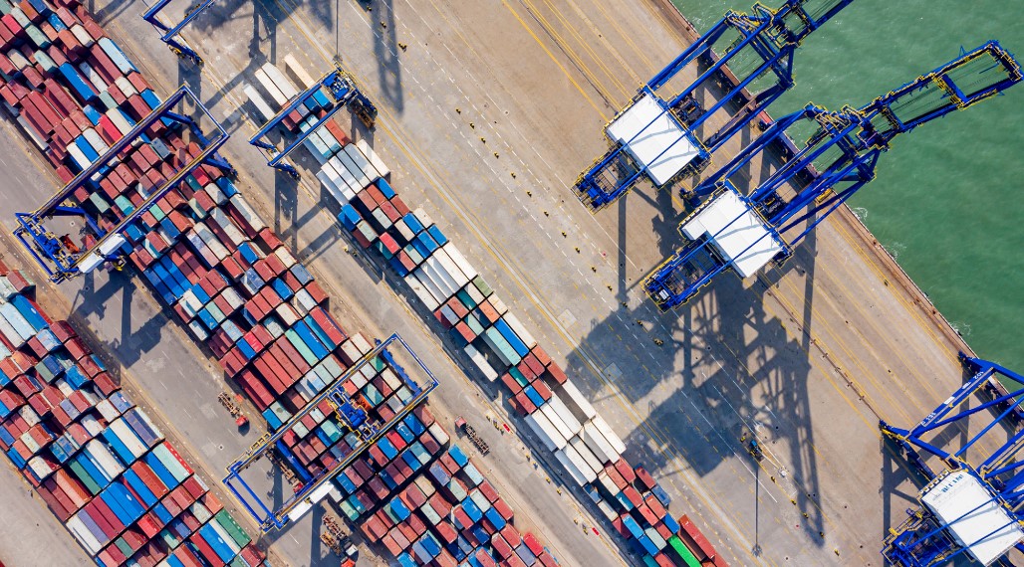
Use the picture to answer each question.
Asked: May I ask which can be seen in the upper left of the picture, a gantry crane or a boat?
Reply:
gantry crane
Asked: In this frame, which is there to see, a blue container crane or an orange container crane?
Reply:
blue container crane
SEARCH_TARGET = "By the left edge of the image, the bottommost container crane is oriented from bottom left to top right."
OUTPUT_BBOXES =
[7,85,233,289]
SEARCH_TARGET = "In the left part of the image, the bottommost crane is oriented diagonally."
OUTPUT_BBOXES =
[220,332,442,537]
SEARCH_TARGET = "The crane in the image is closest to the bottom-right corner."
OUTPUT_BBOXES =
[880,350,1024,567]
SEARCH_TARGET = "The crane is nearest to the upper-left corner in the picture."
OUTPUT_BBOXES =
[142,0,216,64]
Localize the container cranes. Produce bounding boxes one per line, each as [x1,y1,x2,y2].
[7,85,233,289]
[880,350,1024,567]
[142,0,216,64]
[570,0,849,216]
[220,332,442,537]
[652,38,1020,311]
[249,62,377,180]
